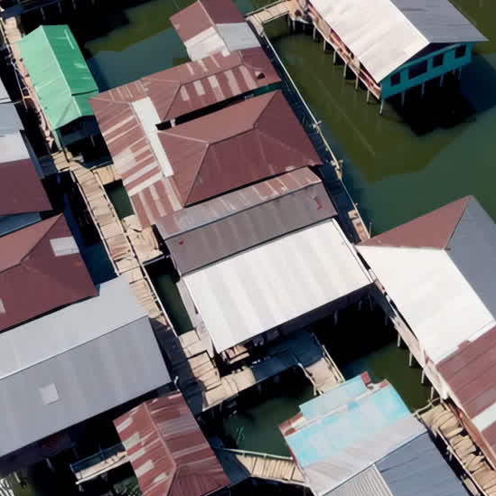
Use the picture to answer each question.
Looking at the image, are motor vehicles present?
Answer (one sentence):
No, the scene contains no motor vehicle.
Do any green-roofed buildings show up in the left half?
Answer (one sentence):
Yes, in the left half there is a green-roofed building.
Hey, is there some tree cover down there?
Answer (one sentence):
No, the scene doesn't show any tree cover.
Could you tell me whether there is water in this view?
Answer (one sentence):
Yes, there's water in this view.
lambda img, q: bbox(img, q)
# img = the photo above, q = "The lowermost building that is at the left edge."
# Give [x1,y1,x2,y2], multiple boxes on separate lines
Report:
[0,273,172,477]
